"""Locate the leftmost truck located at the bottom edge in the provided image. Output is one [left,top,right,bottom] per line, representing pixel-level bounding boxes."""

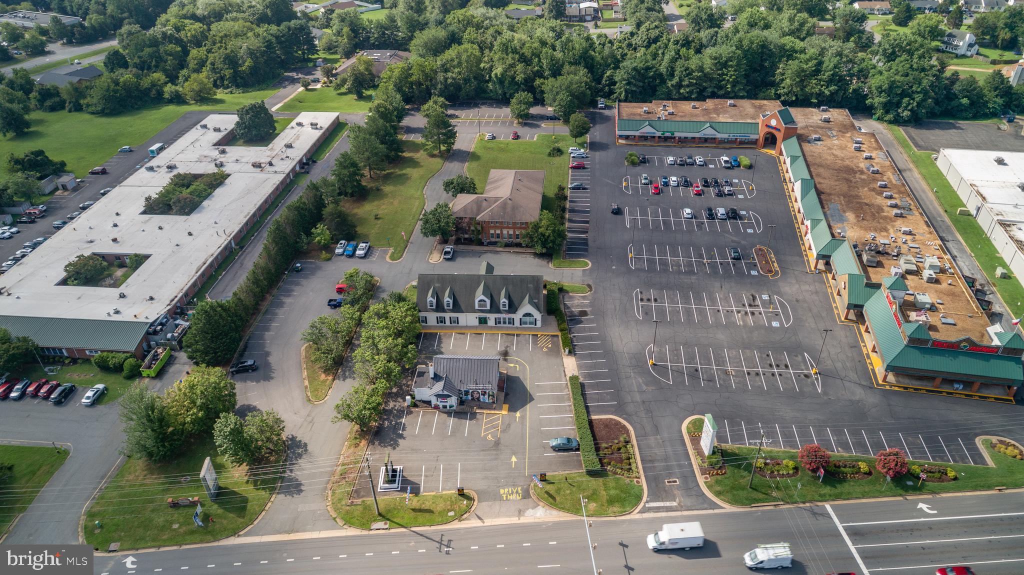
[648,519,706,550]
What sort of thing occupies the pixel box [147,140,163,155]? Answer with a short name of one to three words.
vehicle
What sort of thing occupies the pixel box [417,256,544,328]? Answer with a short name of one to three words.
building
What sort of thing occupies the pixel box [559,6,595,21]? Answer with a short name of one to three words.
house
